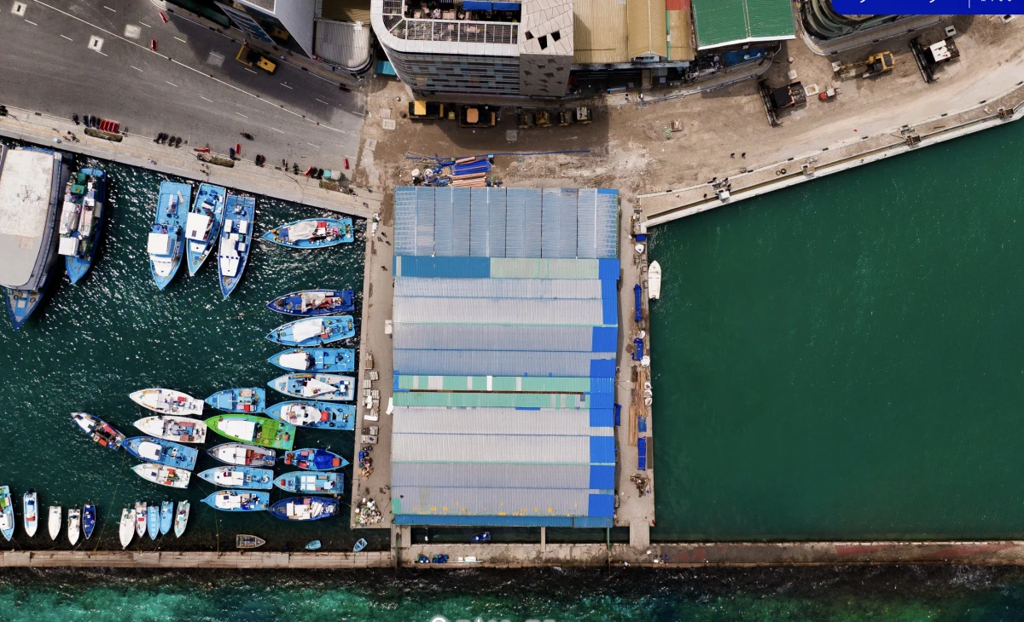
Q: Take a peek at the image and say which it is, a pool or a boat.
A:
boat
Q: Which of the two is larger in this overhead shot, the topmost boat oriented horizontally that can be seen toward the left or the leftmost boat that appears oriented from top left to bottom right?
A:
the topmost boat oriented horizontally that can be seen toward the left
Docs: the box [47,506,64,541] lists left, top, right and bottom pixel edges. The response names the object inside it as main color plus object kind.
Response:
white boat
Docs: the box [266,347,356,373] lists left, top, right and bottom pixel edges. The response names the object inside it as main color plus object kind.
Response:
blue boat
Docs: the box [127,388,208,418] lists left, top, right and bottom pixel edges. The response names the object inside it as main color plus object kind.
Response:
white boat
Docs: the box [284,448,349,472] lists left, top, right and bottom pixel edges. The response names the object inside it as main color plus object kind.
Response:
blue boat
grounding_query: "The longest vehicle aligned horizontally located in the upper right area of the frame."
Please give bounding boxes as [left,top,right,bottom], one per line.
[839,49,902,77]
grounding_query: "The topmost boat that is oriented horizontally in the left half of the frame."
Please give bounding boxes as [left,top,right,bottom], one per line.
[260,216,356,250]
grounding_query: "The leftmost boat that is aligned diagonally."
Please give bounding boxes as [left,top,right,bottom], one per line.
[70,413,127,451]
